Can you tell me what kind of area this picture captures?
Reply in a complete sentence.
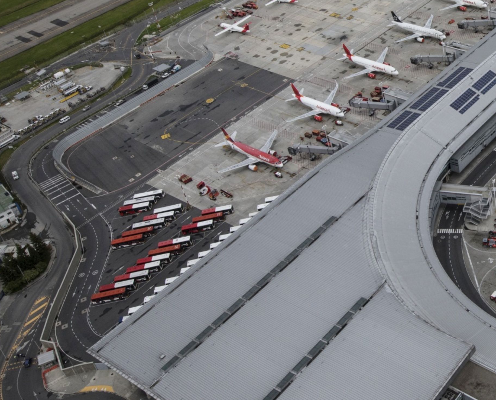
What you see here is an airport.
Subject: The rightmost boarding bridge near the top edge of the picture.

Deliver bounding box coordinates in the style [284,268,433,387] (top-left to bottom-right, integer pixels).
[457,19,496,35]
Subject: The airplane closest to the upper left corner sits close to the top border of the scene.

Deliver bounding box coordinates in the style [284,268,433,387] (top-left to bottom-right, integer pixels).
[215,16,252,36]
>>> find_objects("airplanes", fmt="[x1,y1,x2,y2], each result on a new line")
[336,43,399,78]
[282,81,345,122]
[439,0,486,11]
[386,12,446,42]
[215,16,252,36]
[210,129,283,174]
[267,0,300,6]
